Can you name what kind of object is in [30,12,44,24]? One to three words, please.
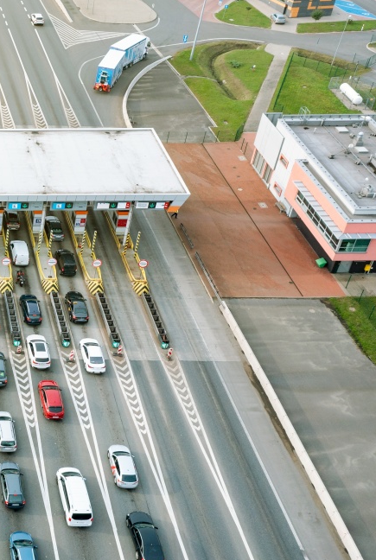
vehicle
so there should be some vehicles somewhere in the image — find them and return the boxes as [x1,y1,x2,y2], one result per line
[272,10,288,22]
[17,270,26,286]
[55,248,76,275]
[60,473,89,528]
[0,351,7,387]
[30,12,44,24]
[20,293,42,325]
[10,534,39,560]
[110,31,153,69]
[0,461,24,509]
[94,73,109,93]
[40,383,63,420]
[80,339,105,374]
[27,335,51,369]
[66,292,89,323]
[9,240,30,266]
[0,409,16,451]
[109,446,136,489]
[131,514,162,560]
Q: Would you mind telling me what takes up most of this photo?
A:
paved ground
